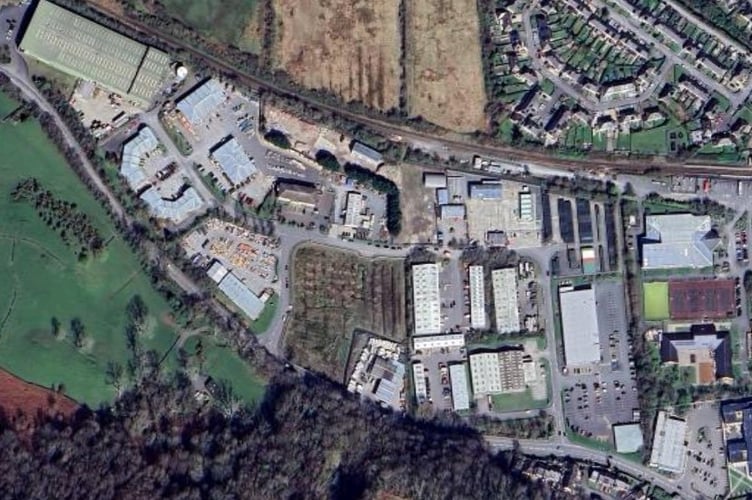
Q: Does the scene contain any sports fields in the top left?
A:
No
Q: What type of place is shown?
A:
residential area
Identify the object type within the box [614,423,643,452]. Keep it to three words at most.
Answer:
building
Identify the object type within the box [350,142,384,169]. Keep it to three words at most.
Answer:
barn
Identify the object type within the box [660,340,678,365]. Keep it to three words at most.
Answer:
building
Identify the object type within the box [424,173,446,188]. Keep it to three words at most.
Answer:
shed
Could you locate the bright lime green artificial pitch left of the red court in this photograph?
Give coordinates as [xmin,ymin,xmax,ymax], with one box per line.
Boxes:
[645,283,670,319]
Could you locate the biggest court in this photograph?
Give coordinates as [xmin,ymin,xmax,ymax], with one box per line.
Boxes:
[669,278,737,319]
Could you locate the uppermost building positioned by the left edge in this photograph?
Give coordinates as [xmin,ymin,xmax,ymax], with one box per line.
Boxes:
[19,0,171,104]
